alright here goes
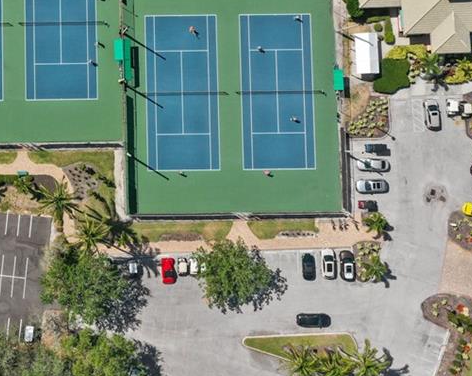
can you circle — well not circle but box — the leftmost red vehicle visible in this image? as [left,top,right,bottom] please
[161,256,176,285]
